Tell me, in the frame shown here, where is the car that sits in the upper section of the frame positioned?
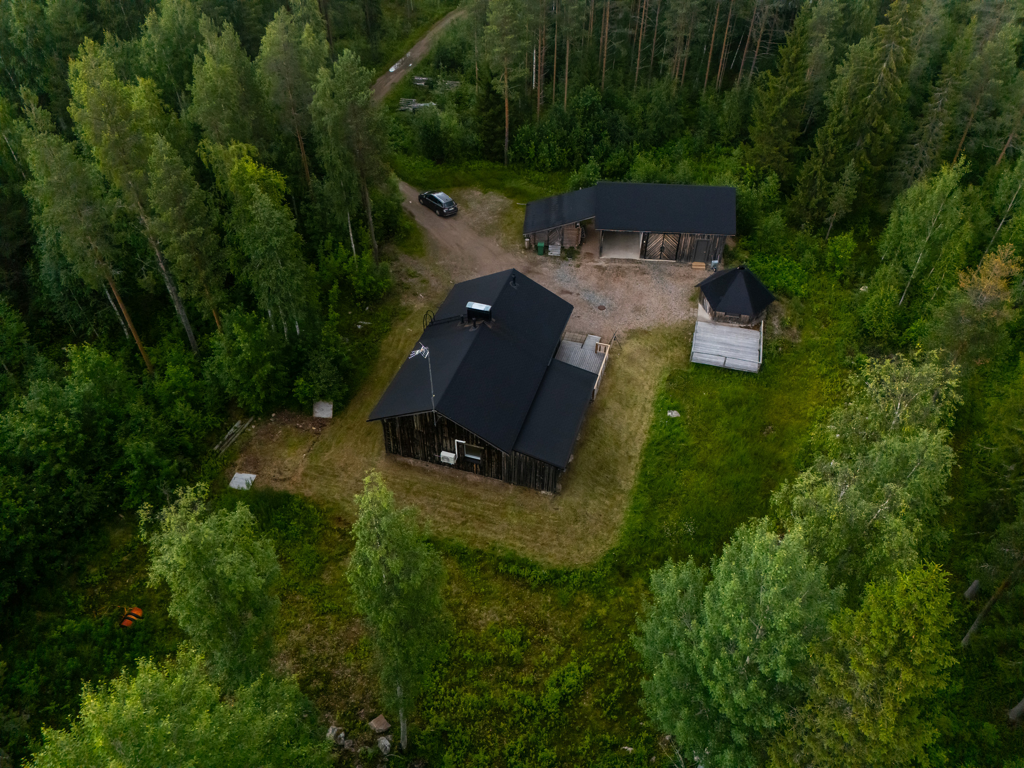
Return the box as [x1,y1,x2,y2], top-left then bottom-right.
[419,192,454,215]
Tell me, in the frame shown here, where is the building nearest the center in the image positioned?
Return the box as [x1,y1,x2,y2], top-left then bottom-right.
[366,269,598,493]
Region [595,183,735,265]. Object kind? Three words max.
building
